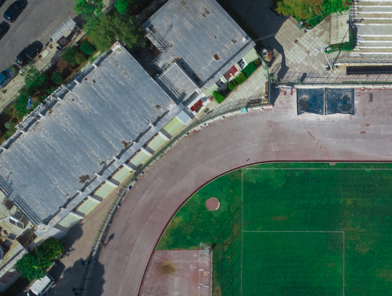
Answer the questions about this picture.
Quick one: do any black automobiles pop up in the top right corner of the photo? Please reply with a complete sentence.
No, I see no black automobile in the top right corner of the photo.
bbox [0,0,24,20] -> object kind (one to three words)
car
